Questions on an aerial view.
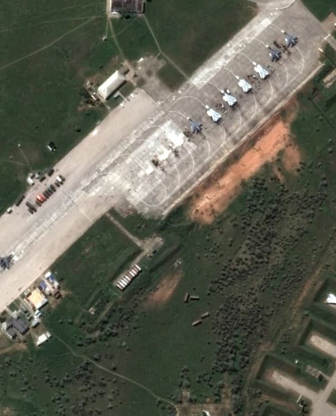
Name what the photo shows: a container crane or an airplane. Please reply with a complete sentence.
There is an airplane in the scene.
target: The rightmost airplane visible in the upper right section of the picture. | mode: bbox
[283,31,300,47]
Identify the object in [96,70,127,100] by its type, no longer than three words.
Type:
building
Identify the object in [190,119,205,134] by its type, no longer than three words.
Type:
airplane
